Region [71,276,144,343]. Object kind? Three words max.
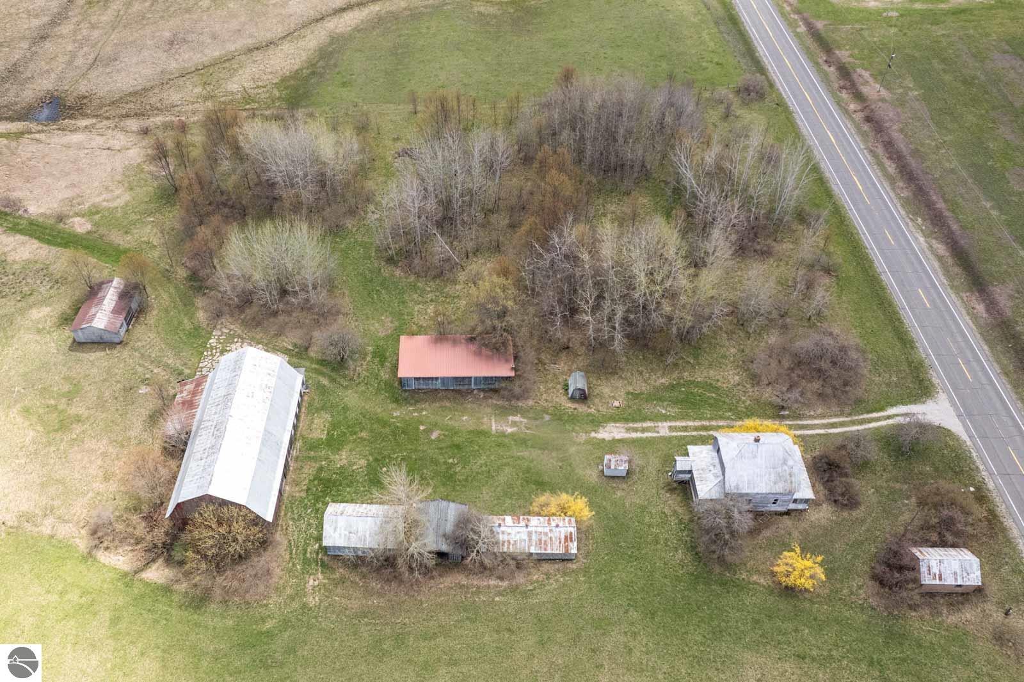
shed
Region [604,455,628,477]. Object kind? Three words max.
shed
